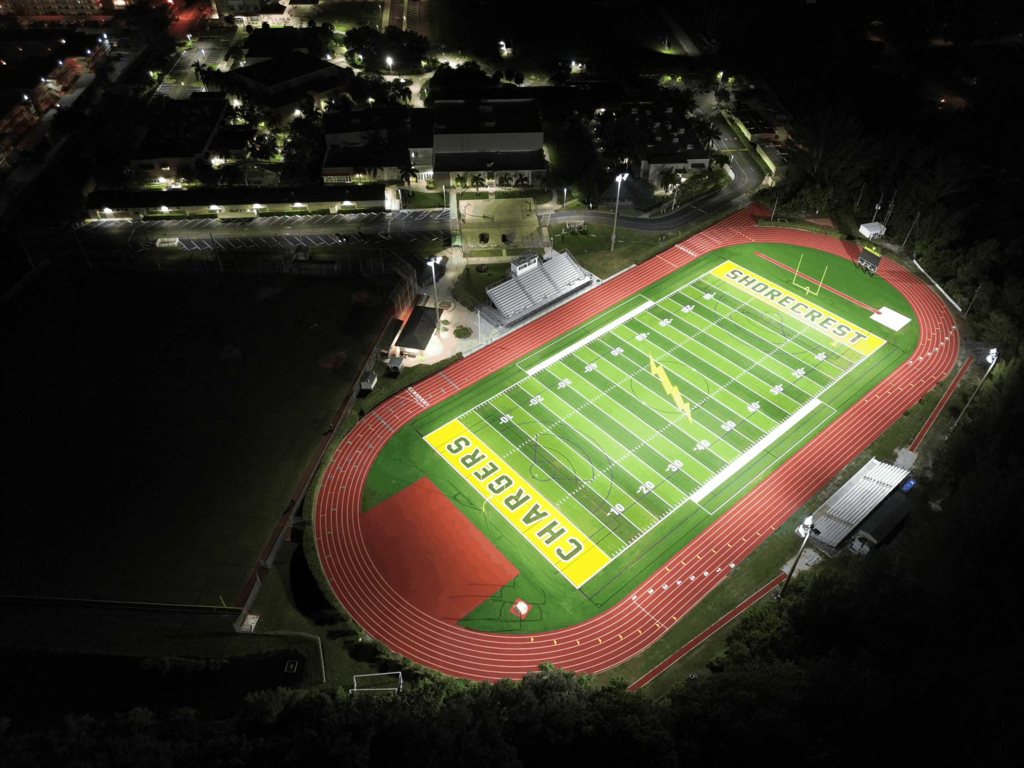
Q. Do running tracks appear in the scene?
Yes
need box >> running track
[312,203,959,687]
